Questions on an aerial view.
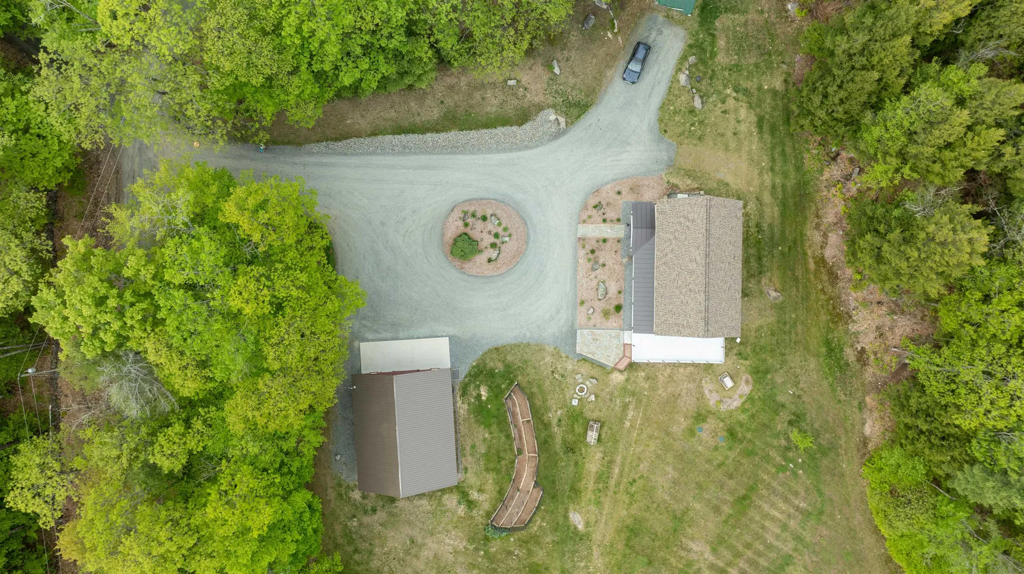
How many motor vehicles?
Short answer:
1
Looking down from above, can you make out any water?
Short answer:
No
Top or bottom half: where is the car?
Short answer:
top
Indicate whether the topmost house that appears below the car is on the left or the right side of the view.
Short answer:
right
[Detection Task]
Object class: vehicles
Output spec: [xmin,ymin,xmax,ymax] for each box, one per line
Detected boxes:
[623,41,651,85]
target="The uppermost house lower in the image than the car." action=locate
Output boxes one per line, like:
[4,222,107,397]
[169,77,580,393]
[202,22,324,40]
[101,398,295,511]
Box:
[629,196,743,338]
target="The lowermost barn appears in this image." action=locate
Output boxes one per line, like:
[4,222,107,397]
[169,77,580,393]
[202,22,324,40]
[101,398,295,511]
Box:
[351,368,459,498]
